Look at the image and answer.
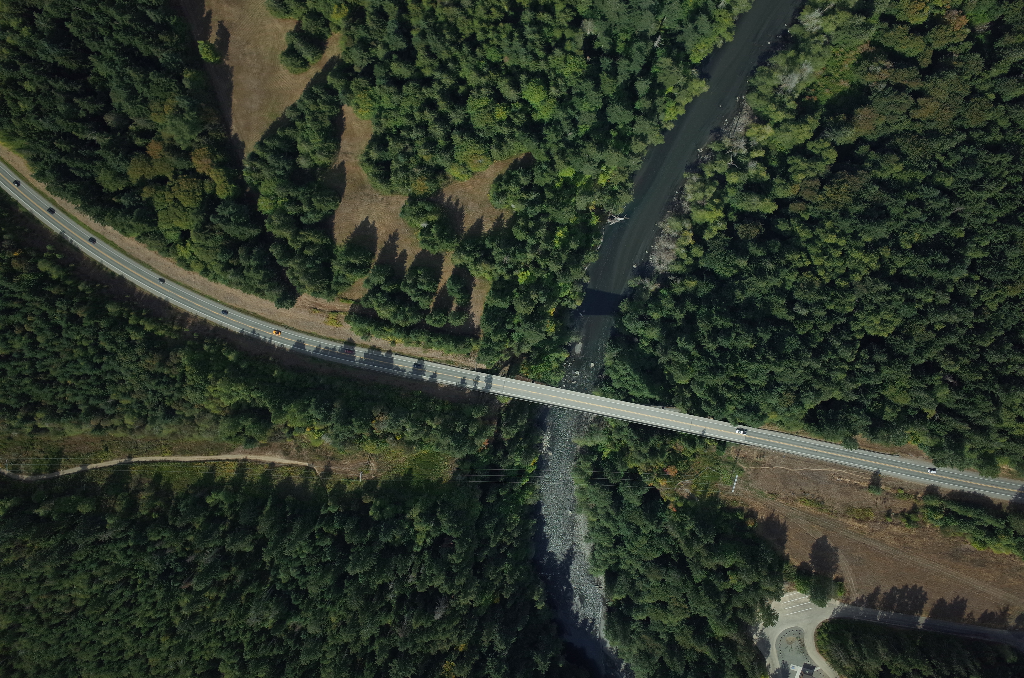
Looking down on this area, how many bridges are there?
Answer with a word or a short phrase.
1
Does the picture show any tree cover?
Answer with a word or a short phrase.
Yes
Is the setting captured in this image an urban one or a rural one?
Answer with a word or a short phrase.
rural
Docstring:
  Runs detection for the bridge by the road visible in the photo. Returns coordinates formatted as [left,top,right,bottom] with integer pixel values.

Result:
[501,376,748,445]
